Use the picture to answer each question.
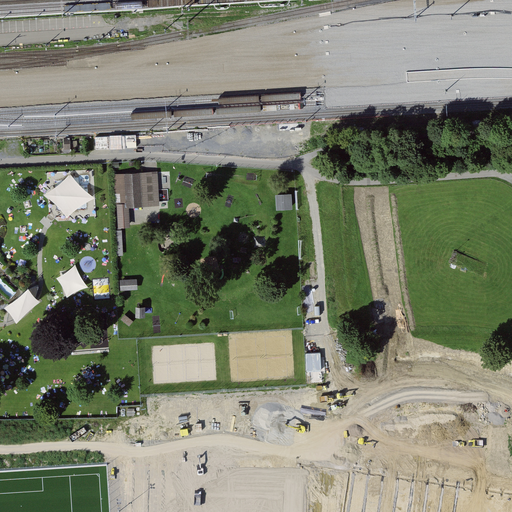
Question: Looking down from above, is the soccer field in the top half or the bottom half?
bottom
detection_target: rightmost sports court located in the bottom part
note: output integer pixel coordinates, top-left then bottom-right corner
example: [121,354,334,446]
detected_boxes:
[229,330,294,382]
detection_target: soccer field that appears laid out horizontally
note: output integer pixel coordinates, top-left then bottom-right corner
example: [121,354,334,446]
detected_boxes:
[0,464,110,512]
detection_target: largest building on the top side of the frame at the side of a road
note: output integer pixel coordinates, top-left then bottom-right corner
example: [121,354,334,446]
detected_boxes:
[114,172,159,226]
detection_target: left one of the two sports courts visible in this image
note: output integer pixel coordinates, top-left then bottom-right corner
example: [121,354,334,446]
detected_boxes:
[152,343,216,384]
